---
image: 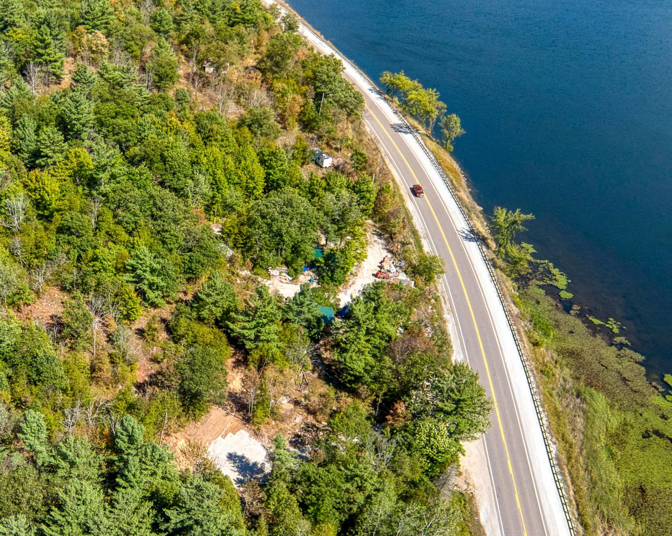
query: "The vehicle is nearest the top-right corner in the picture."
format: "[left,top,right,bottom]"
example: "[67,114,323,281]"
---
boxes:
[413,183,426,195]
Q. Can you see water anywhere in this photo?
Yes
